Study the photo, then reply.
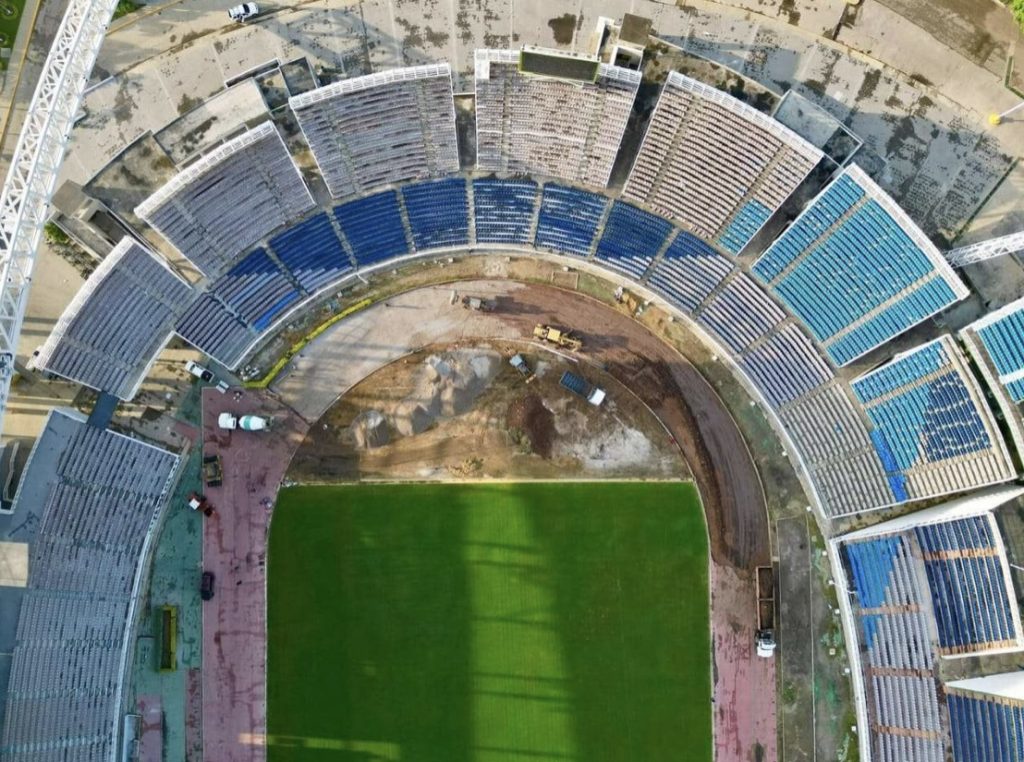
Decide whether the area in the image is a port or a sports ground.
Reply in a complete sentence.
This looks like a sports ground.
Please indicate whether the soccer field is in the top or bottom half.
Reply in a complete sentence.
The bottom half of the photo is where the soccer field is.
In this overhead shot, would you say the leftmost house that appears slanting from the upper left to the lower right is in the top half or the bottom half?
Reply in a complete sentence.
You can find the leftmost house that appears slanting from the upper left to the lower right in the top half.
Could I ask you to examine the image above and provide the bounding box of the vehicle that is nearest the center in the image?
[510,354,534,382]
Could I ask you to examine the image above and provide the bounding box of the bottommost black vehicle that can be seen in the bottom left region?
[198,573,213,601]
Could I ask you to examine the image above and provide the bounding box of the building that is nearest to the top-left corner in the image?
[55,180,142,260]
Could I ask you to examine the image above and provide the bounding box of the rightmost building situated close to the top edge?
[590,13,652,71]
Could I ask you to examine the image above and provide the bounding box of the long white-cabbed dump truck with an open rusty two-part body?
[755,567,778,661]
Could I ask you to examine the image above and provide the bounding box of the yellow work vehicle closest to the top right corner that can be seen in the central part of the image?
[533,323,588,355]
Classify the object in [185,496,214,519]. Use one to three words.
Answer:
work vehicle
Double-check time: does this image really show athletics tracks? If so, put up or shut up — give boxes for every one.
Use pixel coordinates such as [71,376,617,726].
[203,278,779,762]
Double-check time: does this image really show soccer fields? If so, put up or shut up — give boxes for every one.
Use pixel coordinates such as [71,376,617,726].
[263,480,716,762]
